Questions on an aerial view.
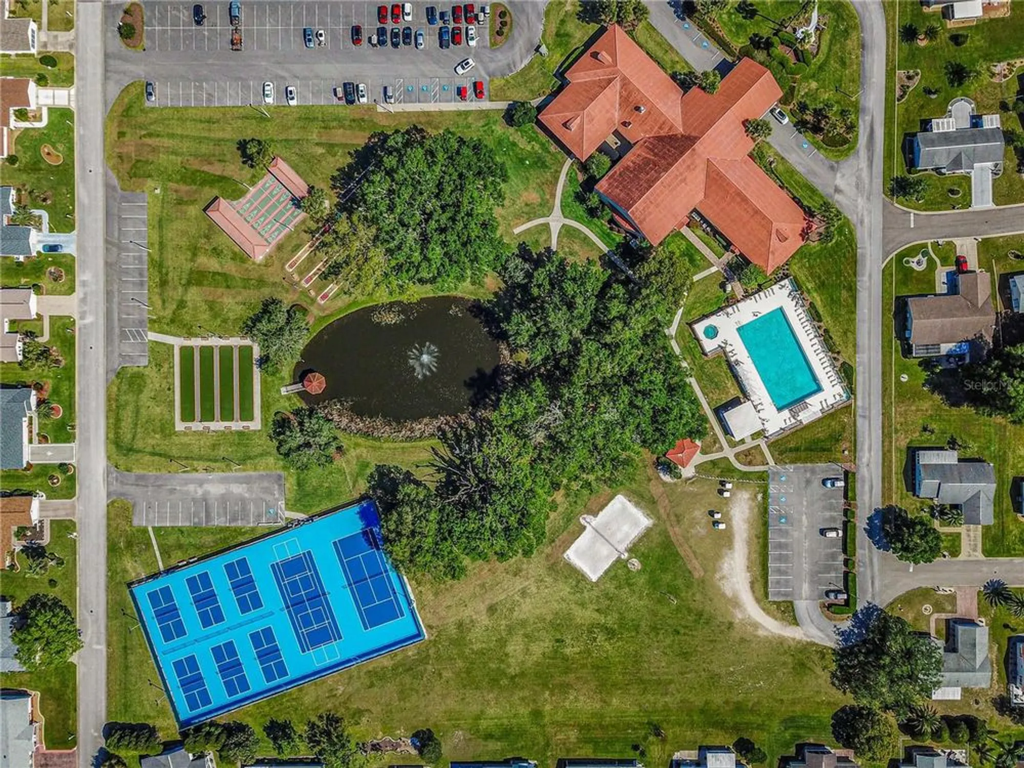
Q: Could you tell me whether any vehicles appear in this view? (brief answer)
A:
Yes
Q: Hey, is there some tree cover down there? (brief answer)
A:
Yes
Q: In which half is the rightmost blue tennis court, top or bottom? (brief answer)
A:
bottom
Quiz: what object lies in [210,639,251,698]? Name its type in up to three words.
sports court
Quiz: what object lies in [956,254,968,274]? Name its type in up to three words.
vehicle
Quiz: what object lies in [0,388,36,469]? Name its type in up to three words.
house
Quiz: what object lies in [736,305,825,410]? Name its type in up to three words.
swimming pool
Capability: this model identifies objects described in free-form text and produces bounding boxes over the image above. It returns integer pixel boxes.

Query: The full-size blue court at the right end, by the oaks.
[332,527,405,631]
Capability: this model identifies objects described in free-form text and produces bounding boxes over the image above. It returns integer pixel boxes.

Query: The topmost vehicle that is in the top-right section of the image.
[771,106,789,125]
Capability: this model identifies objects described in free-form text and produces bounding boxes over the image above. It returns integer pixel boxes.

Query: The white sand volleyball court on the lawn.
[563,494,654,582]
